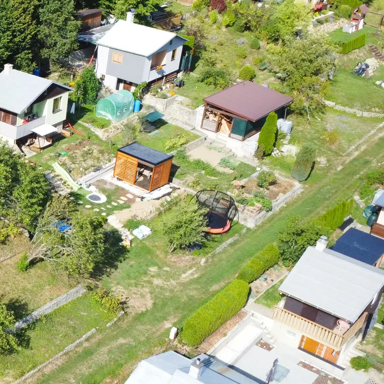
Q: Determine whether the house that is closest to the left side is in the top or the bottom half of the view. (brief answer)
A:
top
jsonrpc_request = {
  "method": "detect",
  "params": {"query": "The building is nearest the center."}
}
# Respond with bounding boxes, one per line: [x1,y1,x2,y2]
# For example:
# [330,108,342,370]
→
[114,140,178,203]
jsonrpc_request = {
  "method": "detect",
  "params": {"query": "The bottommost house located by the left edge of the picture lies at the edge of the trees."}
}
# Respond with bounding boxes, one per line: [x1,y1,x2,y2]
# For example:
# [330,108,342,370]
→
[0,59,75,144]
